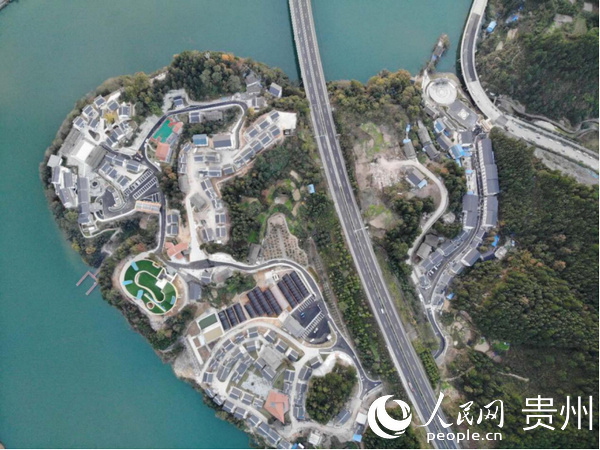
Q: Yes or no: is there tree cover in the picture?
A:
Yes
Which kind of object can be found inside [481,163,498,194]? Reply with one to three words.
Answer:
house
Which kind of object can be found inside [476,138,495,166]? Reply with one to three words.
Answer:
house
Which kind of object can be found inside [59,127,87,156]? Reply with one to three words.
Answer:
building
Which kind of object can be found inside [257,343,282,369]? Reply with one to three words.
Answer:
building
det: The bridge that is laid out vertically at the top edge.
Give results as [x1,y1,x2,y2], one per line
[289,0,327,94]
